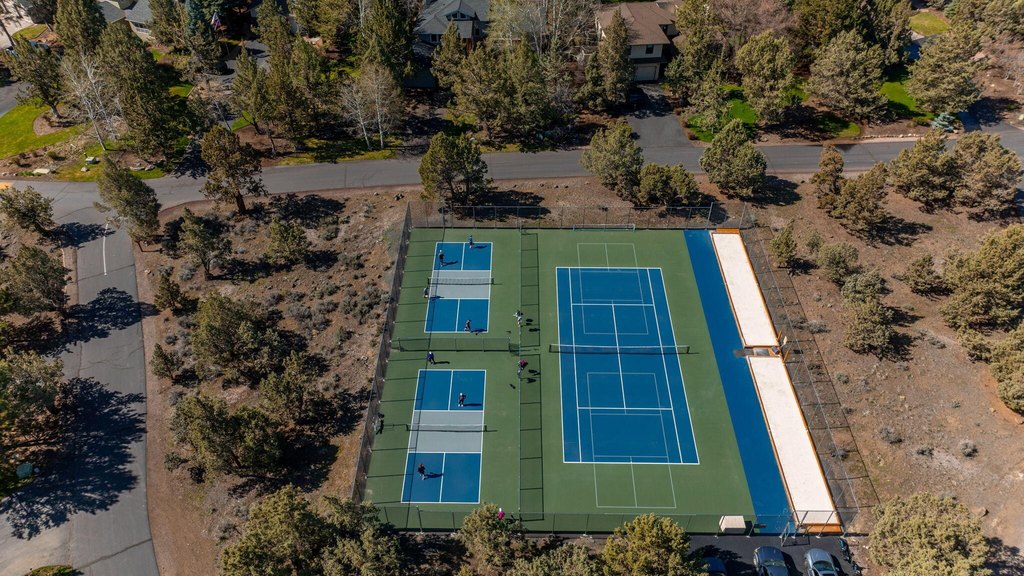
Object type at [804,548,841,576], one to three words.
car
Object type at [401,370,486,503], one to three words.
sports court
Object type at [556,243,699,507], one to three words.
tennis court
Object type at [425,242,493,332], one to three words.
sports court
